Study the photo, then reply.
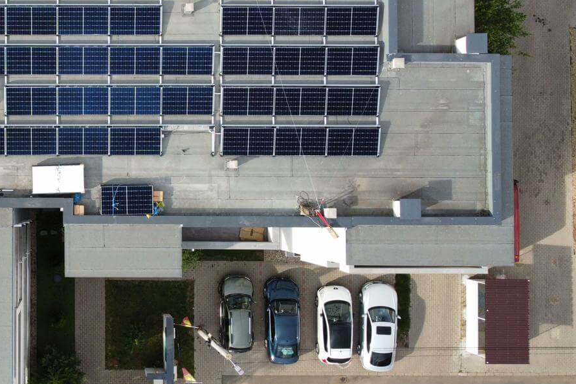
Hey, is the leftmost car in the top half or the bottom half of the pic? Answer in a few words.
bottom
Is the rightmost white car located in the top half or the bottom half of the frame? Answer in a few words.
bottom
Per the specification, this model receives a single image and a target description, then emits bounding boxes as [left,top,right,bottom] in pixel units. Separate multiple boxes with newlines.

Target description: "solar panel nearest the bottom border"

[102,186,153,214]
